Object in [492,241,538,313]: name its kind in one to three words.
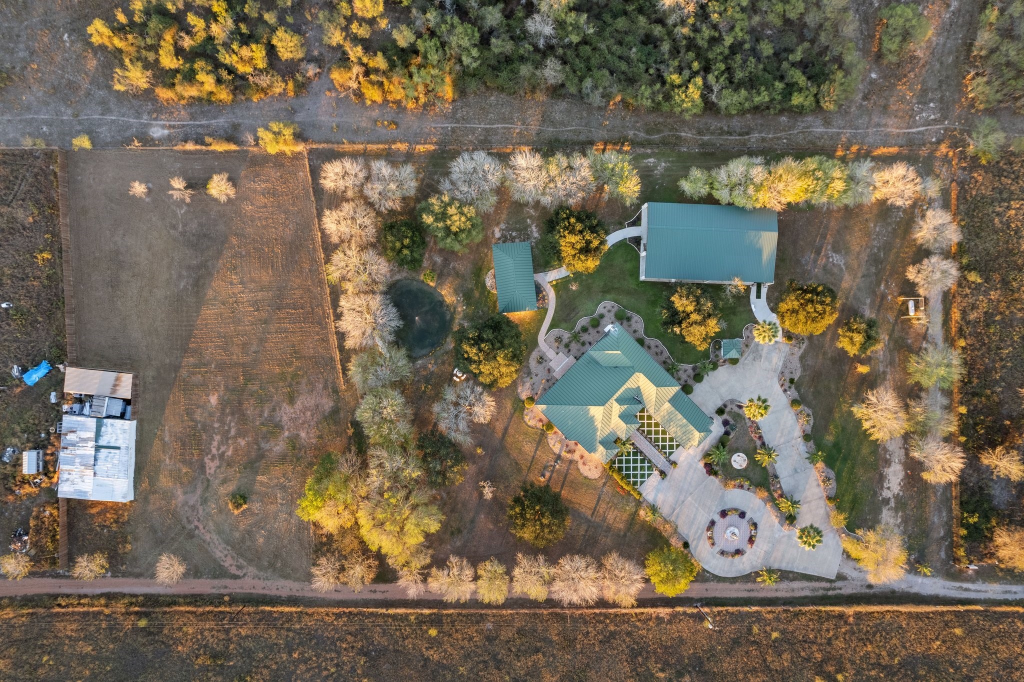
building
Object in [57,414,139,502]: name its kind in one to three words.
shed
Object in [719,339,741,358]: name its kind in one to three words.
shed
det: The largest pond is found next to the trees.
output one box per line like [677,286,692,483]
[386,279,453,358]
